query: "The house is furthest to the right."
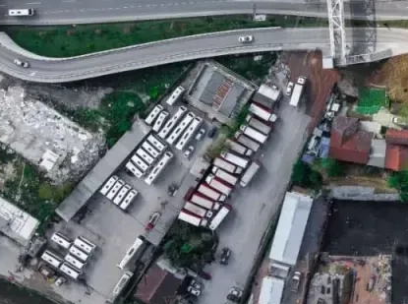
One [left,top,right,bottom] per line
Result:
[385,129,408,171]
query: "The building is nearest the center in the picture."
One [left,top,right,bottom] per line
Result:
[200,71,249,116]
